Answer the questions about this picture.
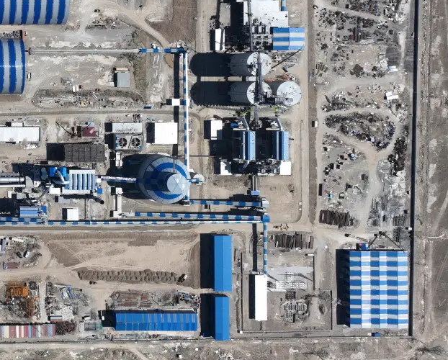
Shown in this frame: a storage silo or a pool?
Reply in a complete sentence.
I can see a storage silo in this picture.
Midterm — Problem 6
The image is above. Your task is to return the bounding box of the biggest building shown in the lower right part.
[344,250,407,328]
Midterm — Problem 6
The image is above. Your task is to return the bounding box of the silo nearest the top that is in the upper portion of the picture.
[229,52,271,78]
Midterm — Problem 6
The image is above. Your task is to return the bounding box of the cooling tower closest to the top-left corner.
[114,134,142,150]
